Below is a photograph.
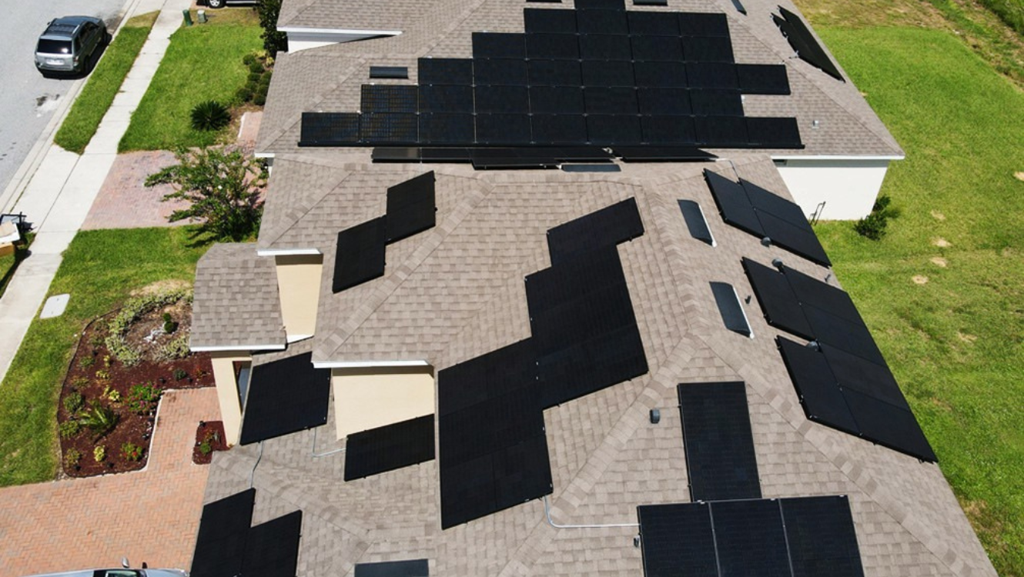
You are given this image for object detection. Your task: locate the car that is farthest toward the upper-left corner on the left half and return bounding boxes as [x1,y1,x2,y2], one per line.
[35,7,115,72]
